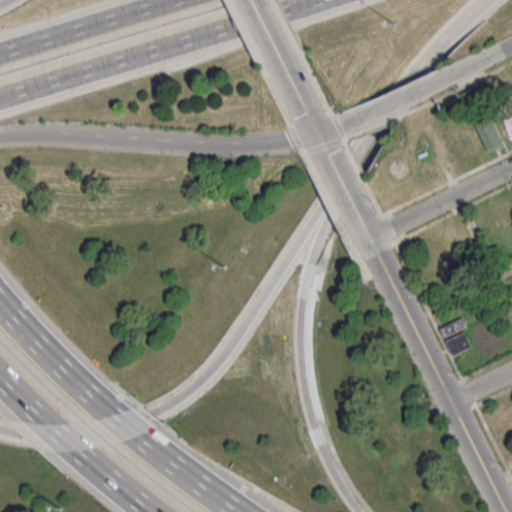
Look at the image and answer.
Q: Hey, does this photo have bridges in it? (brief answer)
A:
Yes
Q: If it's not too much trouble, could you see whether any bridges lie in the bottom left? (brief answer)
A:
Yes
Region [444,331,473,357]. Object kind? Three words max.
house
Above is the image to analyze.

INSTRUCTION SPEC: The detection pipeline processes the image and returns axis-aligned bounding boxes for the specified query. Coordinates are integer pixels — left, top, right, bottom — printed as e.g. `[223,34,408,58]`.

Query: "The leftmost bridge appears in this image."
[11,402,164,458]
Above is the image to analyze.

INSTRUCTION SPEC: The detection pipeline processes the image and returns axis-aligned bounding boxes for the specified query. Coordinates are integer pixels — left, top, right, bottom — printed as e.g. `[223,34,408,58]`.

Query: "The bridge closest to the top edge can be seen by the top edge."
[223,0,290,46]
